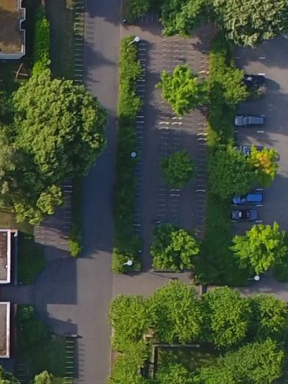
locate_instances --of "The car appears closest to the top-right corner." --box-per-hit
[242,73,269,89]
